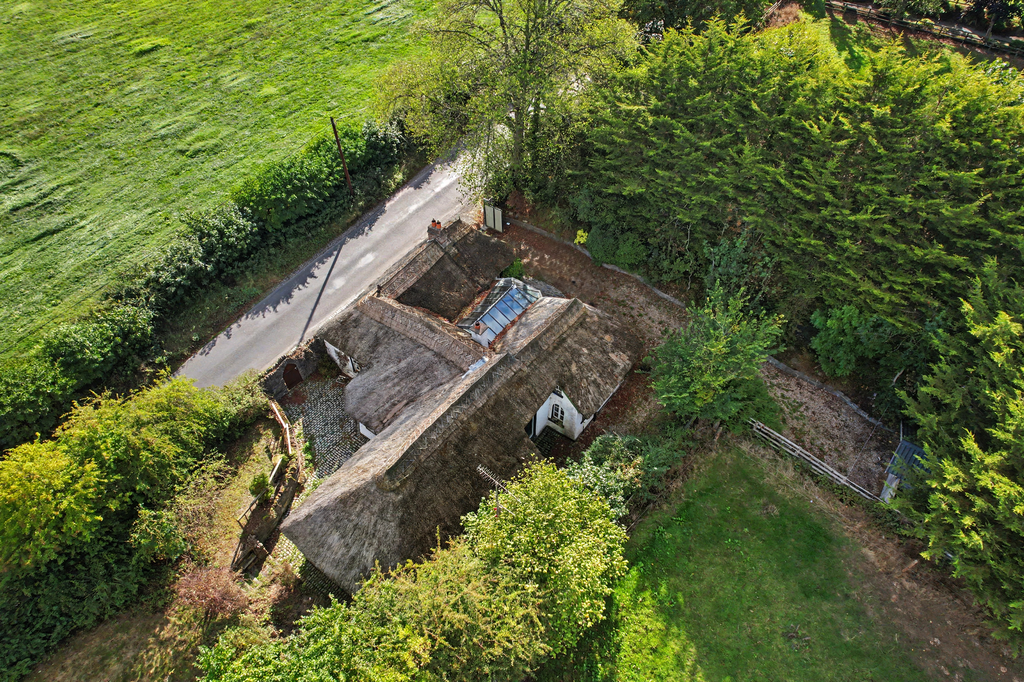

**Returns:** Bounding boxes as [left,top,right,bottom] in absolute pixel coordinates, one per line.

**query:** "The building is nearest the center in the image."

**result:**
[280,199,643,640]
